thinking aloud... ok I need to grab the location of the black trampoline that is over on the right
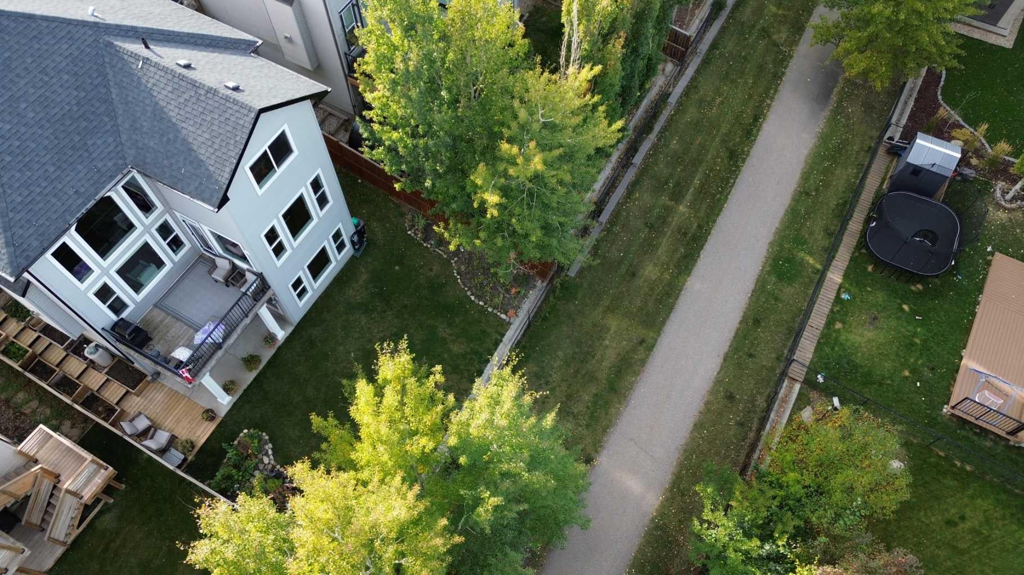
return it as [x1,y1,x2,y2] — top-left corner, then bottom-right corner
[854,170,988,292]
